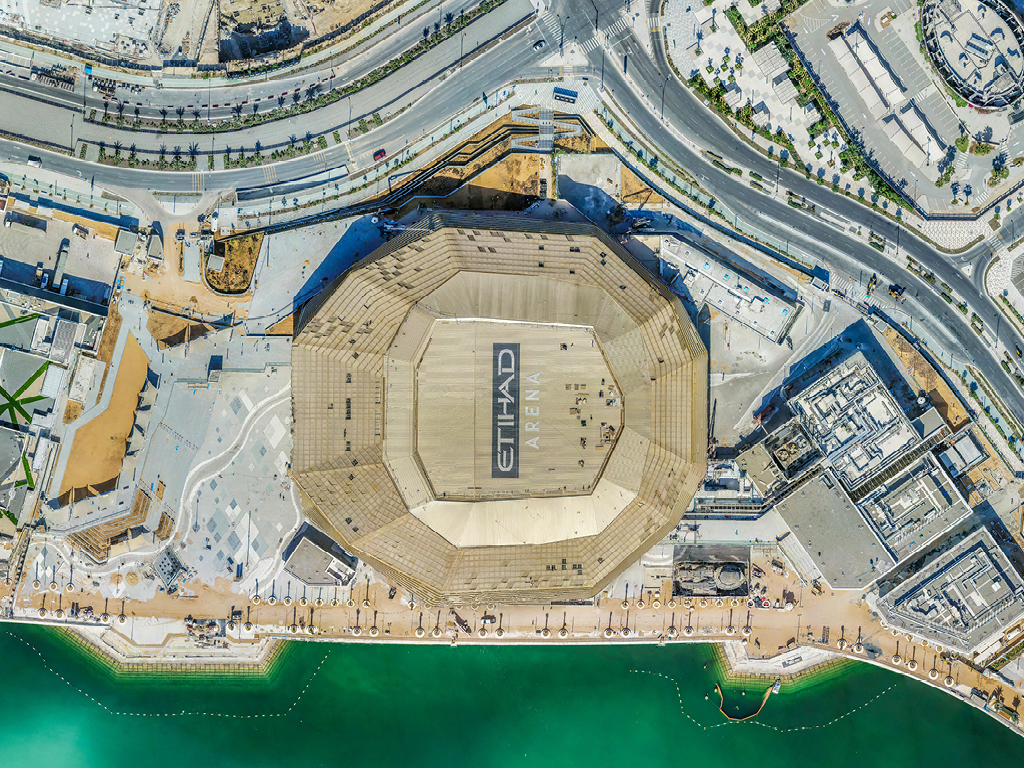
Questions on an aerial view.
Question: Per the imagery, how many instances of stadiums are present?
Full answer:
The photo contains exactly 1 stadium.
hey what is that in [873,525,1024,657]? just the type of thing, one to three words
building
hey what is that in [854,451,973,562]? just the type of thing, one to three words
building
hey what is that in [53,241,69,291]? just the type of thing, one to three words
vehicle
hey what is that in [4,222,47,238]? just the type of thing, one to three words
vehicle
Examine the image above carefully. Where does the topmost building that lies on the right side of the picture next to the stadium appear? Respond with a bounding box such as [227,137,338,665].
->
[660,234,805,347]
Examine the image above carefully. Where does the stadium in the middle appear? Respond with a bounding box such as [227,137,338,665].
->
[290,213,708,606]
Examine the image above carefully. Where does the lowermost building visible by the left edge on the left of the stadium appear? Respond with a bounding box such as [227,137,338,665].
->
[0,288,111,532]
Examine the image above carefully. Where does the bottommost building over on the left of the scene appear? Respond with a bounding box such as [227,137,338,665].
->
[283,536,356,586]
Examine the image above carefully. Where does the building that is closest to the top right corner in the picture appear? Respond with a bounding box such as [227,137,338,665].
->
[926,0,1024,107]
